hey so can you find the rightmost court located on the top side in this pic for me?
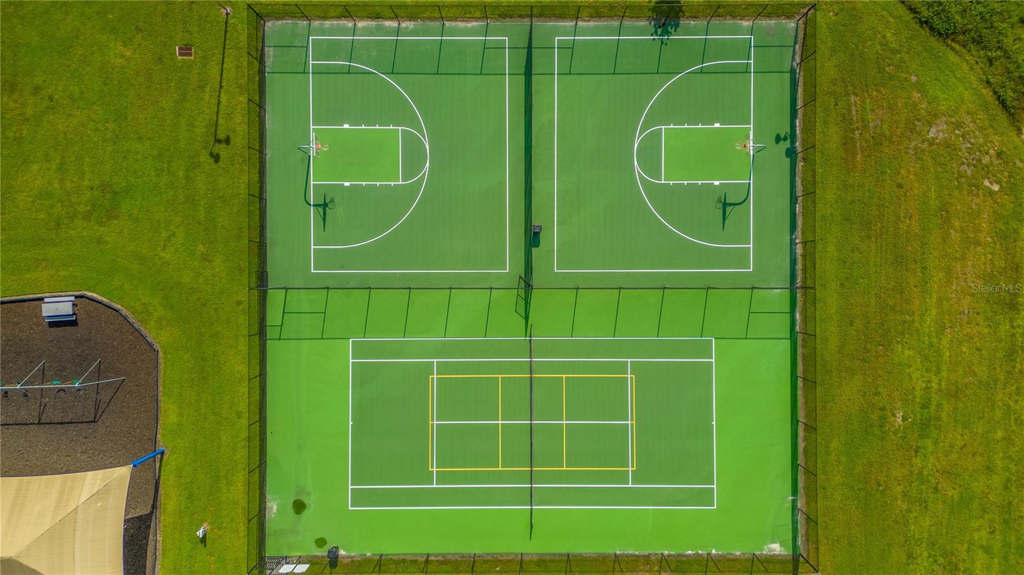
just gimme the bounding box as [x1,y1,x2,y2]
[532,21,798,288]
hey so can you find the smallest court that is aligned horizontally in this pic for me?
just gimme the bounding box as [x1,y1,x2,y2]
[429,375,635,470]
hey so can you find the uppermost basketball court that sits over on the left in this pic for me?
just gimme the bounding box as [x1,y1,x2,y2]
[265,21,531,288]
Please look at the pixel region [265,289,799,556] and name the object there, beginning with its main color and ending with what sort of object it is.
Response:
green tennis court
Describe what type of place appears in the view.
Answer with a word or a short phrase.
sports ground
